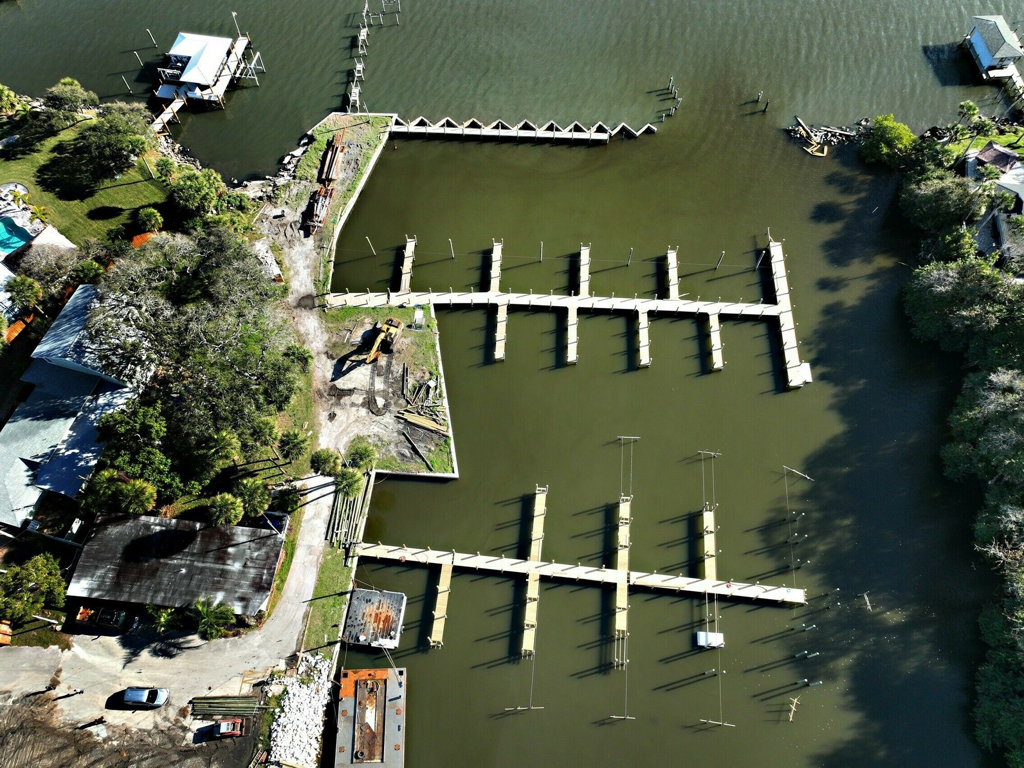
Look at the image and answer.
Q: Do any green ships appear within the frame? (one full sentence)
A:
No, the frame has no green ship in it.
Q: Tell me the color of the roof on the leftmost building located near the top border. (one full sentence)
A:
The color of the roof on the leftmost building located near the top border is white.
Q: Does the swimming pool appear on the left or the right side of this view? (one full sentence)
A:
You can find the swimming pool on the left side of the picture.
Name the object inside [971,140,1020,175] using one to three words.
shed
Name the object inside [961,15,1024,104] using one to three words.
building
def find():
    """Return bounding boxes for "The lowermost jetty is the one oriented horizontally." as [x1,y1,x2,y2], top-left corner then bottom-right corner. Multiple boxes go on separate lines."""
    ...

[358,486,809,669]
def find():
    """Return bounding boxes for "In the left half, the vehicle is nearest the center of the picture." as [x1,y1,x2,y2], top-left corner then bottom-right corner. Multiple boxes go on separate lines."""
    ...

[366,316,409,367]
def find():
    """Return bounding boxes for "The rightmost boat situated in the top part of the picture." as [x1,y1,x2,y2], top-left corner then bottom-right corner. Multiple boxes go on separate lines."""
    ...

[160,58,189,70]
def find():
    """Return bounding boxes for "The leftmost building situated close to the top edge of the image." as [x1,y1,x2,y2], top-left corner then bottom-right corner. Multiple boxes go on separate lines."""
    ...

[150,30,253,135]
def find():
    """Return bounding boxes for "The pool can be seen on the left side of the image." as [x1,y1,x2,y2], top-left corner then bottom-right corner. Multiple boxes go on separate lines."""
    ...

[0,217,34,255]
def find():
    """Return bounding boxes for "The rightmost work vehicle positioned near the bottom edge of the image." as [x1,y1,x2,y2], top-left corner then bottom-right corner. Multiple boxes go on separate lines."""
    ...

[213,717,252,738]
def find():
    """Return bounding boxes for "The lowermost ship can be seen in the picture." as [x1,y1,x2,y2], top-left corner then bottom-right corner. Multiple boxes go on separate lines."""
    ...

[334,668,407,768]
